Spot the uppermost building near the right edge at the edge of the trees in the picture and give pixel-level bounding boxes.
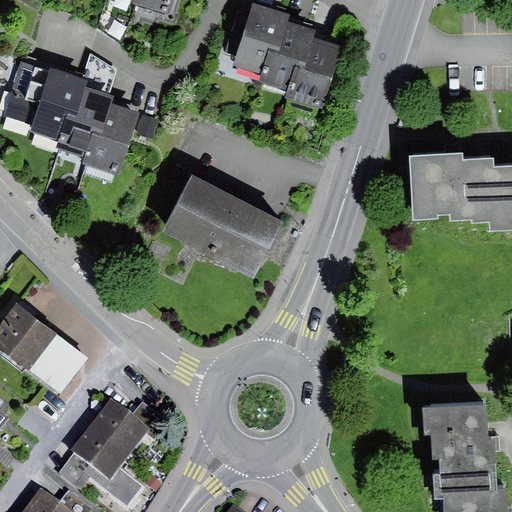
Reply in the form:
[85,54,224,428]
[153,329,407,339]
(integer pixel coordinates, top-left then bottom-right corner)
[409,152,512,232]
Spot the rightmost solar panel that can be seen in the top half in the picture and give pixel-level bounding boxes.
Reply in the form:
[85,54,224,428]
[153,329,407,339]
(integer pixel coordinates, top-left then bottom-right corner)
[85,92,111,122]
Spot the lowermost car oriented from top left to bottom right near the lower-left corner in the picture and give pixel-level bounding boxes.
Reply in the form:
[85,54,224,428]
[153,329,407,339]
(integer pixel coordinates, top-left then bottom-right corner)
[46,449,66,470]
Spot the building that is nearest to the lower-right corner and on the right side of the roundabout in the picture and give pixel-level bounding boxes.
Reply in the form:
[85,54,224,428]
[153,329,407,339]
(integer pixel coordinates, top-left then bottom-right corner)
[422,402,508,512]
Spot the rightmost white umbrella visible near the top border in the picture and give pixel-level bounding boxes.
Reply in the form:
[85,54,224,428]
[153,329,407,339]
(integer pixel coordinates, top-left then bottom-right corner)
[108,19,127,40]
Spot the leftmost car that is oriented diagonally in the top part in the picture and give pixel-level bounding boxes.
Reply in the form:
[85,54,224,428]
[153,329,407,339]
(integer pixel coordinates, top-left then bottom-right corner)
[196,152,213,174]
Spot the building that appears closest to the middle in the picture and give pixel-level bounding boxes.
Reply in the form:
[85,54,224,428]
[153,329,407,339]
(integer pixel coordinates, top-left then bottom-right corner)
[164,174,282,280]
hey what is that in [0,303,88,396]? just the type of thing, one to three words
house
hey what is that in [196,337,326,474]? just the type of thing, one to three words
roundabout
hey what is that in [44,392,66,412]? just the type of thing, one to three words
car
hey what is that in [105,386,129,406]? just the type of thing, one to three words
vehicle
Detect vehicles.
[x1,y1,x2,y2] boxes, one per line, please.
[253,494,271,512]
[124,364,144,387]
[140,382,159,400]
[145,91,157,115]
[128,393,141,408]
[46,449,66,470]
[132,82,145,106]
[38,400,60,422]
[196,152,213,174]
[448,64,460,94]
[274,500,288,512]
[474,67,485,90]
[302,382,312,404]
[44,392,66,412]
[309,307,322,332]
[105,386,129,406]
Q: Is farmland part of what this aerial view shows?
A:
No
